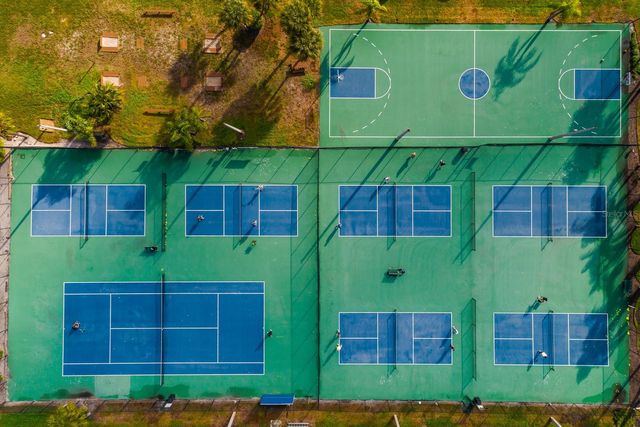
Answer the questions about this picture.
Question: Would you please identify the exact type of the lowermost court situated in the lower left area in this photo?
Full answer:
The lowermost court situated in the lower left area is a tennis court.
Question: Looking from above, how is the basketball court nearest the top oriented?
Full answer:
In this picture, the basketball court nearest the top is oriented from left to right.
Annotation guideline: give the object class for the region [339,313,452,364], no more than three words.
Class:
sports court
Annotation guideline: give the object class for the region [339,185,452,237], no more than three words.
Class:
sports court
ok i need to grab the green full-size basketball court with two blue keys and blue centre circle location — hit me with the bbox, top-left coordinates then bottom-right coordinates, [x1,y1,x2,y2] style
[329,29,621,137]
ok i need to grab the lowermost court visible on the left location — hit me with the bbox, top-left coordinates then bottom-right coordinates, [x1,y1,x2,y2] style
[63,281,265,376]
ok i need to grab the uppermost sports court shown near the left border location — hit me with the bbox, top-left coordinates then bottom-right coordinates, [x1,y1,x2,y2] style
[31,184,145,236]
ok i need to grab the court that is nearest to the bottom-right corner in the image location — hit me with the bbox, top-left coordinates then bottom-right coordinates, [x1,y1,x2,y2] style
[494,313,609,366]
